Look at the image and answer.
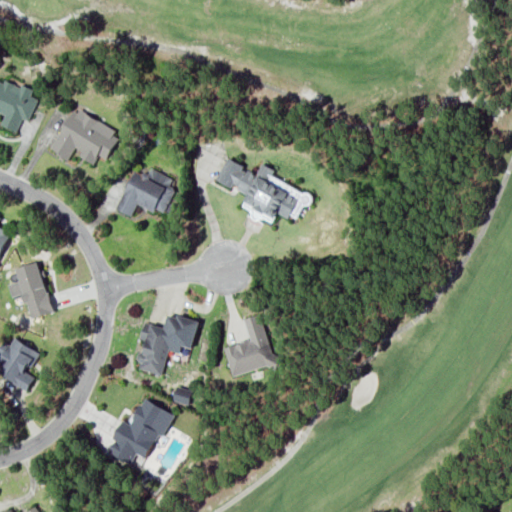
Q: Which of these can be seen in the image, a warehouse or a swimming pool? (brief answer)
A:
swimming pool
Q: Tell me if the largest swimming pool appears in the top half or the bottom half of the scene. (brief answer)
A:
bottom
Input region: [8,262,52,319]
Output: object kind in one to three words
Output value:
house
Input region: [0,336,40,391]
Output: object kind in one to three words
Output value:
house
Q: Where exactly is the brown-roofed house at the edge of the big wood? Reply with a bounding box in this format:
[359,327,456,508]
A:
[226,316,278,375]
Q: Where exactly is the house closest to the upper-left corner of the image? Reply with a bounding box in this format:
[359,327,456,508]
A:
[0,80,38,132]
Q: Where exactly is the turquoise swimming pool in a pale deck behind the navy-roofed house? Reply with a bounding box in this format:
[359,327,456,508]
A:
[144,428,192,483]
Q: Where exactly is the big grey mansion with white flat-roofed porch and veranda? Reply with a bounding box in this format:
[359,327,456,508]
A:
[216,158,314,224]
